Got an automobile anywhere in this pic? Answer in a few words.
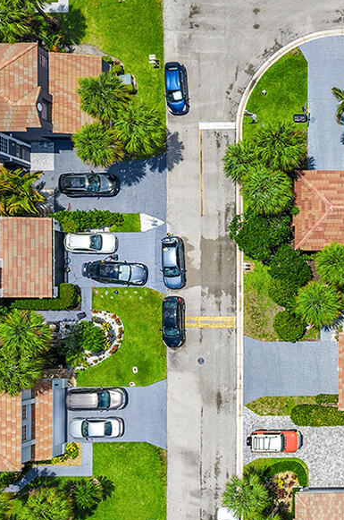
Yes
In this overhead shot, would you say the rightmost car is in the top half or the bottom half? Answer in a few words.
bottom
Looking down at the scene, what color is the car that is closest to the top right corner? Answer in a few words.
blue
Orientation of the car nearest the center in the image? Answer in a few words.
from top to bottom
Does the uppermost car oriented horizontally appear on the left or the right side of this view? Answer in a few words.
left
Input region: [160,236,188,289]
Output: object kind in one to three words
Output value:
car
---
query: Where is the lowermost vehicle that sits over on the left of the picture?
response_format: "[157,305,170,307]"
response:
[71,414,127,440]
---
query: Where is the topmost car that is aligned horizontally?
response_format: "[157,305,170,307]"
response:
[61,171,119,197]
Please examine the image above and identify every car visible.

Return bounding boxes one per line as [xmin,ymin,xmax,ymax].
[88,260,149,286]
[250,429,305,455]
[69,385,128,412]
[160,236,188,289]
[160,296,188,347]
[61,171,119,197]
[65,231,121,256]
[71,414,127,440]
[164,63,190,116]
